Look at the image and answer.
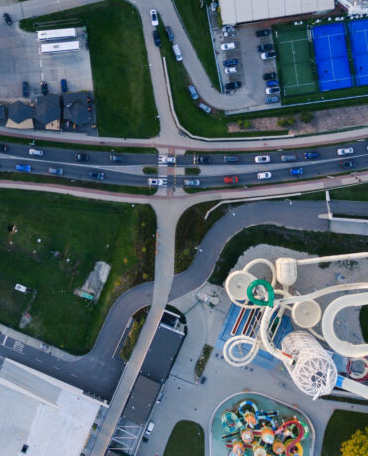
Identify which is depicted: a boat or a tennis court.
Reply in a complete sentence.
It is a tennis court that can be seen here.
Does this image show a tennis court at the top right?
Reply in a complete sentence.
Yes, you'll find a tennis court at the top right.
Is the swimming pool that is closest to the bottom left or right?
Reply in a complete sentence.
The swimming pool that is closest to the bottom is on the right side of the image.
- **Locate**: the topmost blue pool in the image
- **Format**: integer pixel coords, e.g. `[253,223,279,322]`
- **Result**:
[217,301,293,373]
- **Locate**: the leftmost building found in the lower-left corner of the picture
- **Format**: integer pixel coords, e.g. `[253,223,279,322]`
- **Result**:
[0,352,109,456]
